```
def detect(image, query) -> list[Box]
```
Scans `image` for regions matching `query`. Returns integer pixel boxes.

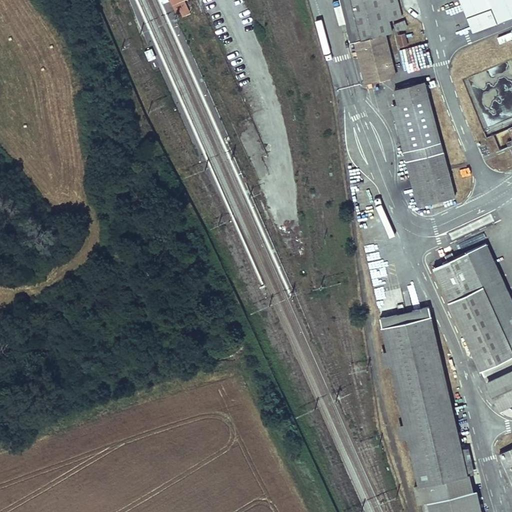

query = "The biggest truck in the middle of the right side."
[374,198,396,240]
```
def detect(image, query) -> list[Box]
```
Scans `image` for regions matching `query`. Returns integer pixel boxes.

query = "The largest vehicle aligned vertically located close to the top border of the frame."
[316,16,333,60]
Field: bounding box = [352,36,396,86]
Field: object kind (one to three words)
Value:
shed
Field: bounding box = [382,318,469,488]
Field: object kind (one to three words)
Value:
building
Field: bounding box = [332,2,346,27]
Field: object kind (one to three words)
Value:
vehicle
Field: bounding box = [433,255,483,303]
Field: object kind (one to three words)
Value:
building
